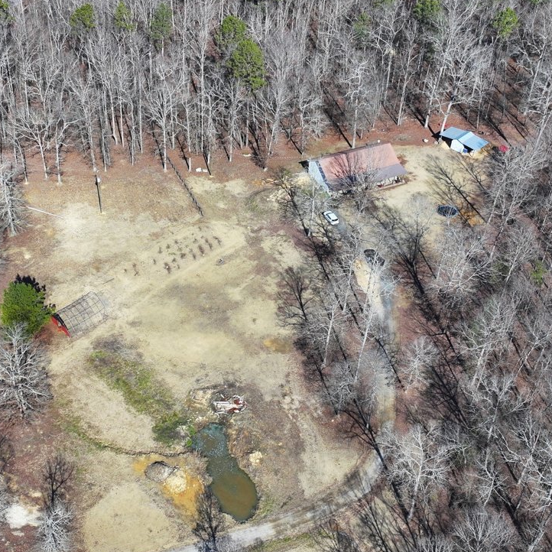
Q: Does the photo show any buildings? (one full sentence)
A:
Yes, looking at the shot, I can spot a building.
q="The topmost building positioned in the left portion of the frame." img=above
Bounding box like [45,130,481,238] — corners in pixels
[51,295,108,336]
